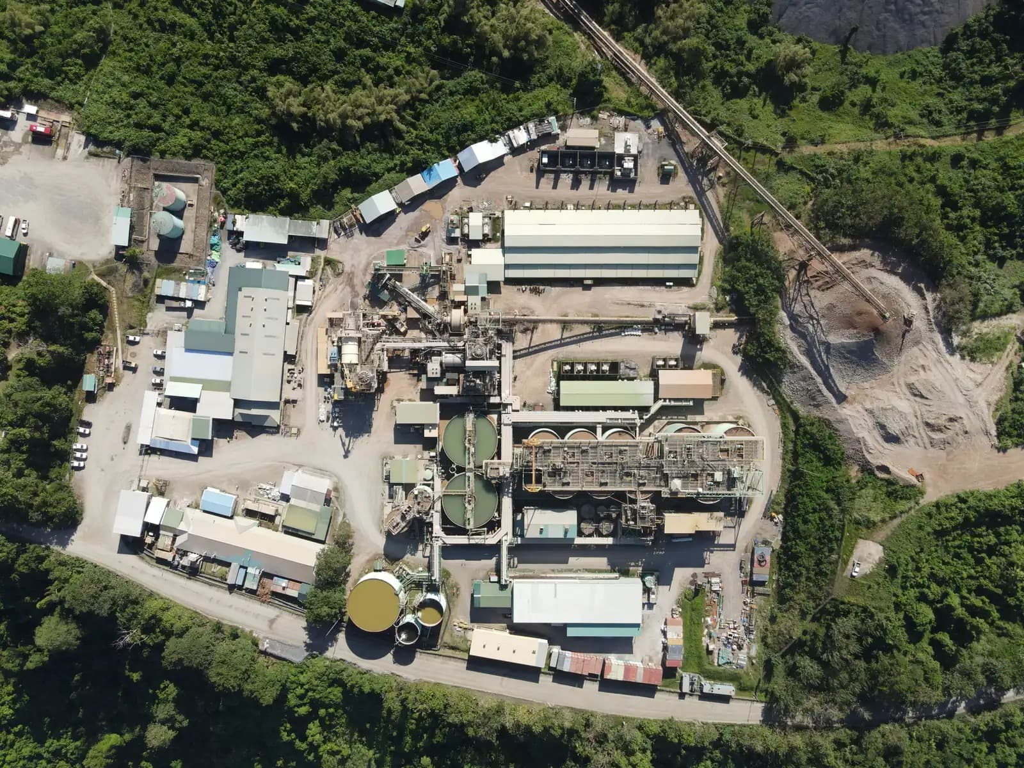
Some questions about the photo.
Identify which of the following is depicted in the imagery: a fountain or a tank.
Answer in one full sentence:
It is a tank that can be seen here.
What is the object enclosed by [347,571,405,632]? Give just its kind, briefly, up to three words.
storage tank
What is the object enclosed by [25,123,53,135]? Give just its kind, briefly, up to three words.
vehicle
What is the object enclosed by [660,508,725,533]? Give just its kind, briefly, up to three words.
house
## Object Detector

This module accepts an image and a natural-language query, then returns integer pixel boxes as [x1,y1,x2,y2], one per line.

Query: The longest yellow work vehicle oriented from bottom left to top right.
[412,221,432,240]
